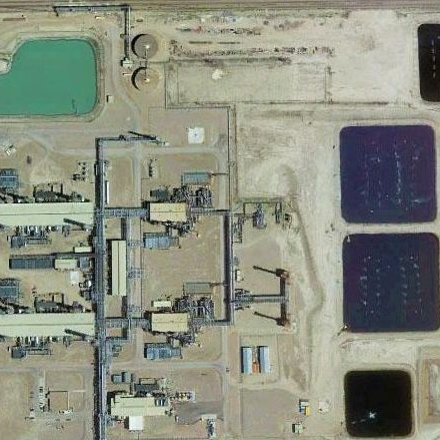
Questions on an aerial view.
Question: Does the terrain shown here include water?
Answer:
Yes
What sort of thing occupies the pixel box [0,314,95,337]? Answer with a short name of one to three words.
building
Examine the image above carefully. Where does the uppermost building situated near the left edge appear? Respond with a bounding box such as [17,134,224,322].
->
[0,202,94,226]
